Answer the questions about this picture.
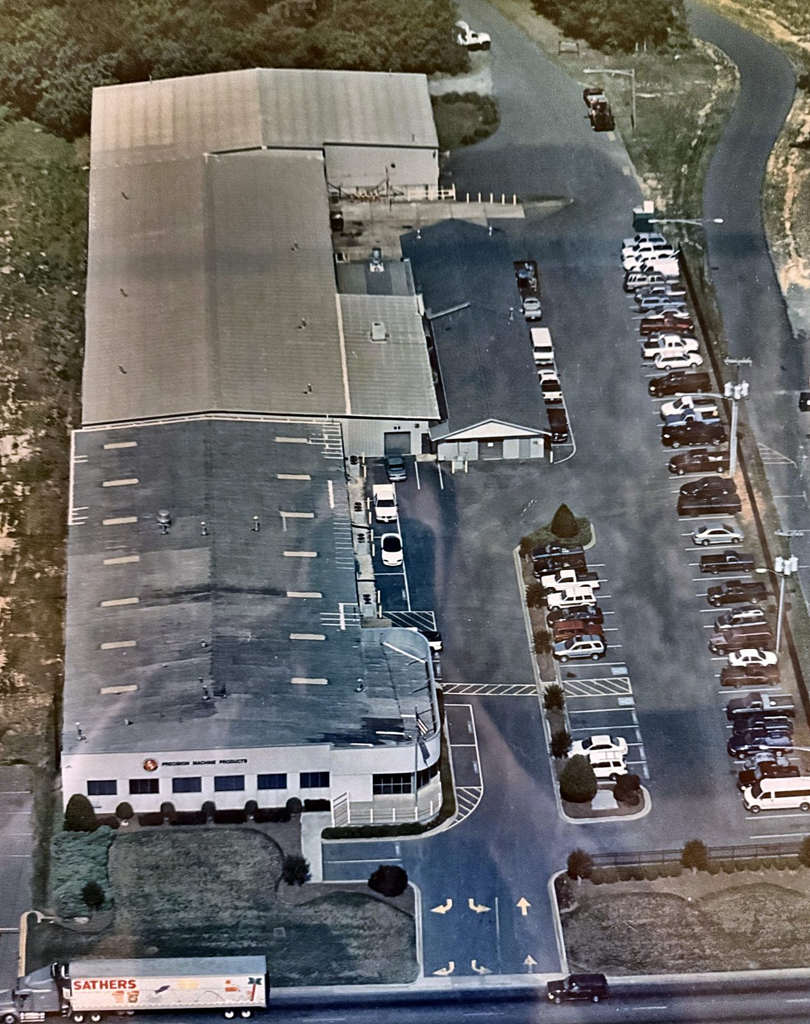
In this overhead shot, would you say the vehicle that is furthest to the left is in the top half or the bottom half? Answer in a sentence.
The vehicle that is furthest to the left is in the bottom half of the image.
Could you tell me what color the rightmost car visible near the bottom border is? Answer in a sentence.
The color of the rightmost car visible near the bottom border is black.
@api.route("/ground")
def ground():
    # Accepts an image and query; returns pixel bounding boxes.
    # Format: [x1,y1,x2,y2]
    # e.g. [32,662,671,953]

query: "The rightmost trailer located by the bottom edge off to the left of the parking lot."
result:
[61,954,266,1016]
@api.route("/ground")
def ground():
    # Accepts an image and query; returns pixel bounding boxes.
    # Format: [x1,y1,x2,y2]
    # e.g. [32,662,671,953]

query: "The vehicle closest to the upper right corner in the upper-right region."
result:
[581,93,612,130]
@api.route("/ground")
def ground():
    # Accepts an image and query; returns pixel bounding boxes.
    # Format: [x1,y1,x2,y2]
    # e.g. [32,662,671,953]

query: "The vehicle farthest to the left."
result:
[0,959,101,1018]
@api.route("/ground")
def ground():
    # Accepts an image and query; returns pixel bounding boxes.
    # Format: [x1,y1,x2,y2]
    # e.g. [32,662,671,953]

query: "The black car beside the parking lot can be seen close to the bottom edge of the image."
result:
[546,968,608,1003]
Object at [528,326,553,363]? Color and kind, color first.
white vehicle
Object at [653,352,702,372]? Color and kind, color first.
white car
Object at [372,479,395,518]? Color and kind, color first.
white truck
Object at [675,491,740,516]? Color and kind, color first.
black truck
